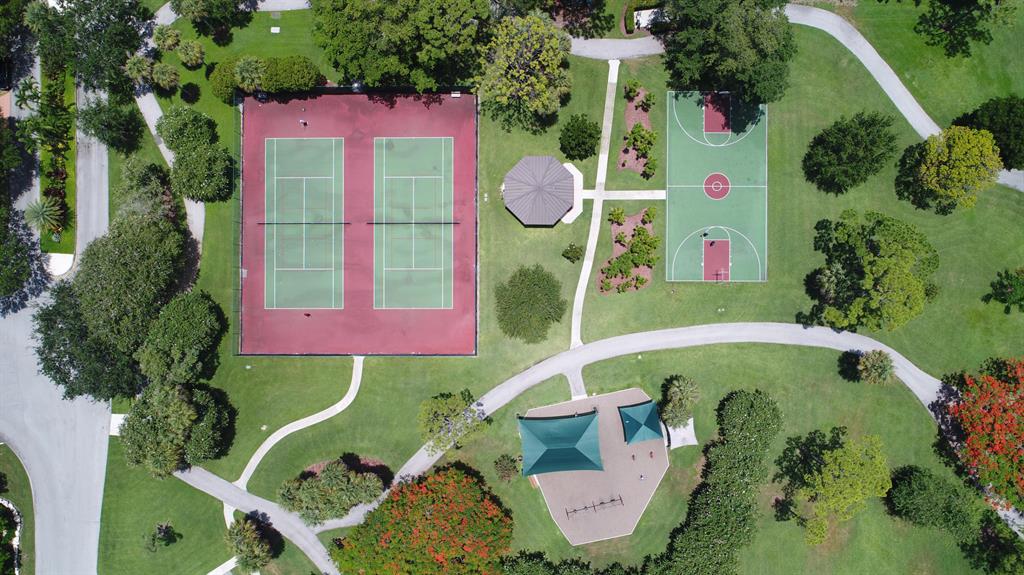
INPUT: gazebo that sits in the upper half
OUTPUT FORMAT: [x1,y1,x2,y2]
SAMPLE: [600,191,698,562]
[504,156,583,224]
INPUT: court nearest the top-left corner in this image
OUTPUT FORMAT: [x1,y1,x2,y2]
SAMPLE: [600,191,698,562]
[265,138,343,309]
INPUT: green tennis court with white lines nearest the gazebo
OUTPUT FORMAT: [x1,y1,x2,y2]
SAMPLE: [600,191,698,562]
[374,138,453,309]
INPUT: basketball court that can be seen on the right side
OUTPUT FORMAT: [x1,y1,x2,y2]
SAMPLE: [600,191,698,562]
[667,91,767,282]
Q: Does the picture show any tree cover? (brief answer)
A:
Yes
